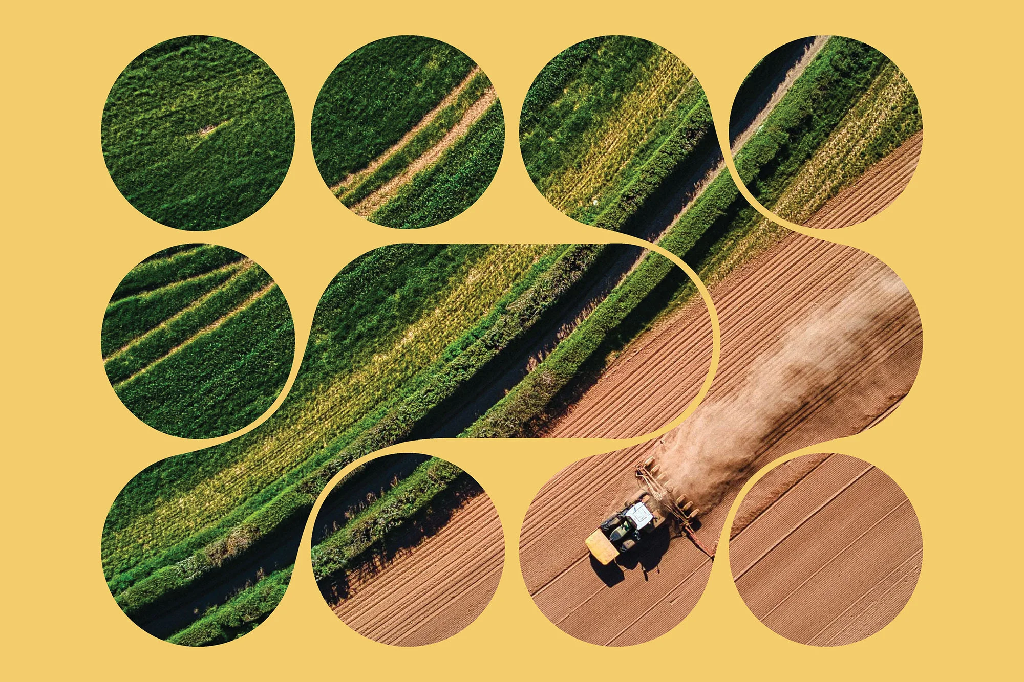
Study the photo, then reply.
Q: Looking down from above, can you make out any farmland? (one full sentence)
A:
Yes, the picture does contain farmland.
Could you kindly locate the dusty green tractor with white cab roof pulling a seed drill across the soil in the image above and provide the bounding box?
[586,484,671,566]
